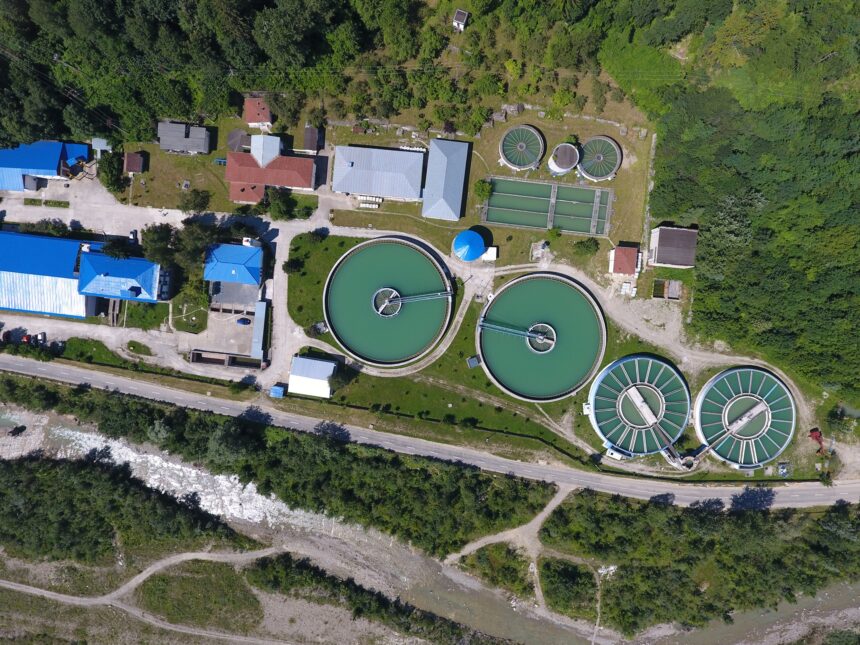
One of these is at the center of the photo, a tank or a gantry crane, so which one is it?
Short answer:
tank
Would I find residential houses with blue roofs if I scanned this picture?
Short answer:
Yes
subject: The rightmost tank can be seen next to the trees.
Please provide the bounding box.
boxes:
[691,367,795,466]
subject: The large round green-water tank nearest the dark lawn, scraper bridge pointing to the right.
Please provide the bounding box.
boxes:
[322,237,454,368]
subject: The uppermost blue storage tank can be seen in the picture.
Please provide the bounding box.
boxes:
[453,230,496,262]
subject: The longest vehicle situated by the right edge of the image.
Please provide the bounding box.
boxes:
[810,427,829,454]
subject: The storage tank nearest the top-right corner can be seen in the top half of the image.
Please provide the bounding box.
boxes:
[571,135,622,186]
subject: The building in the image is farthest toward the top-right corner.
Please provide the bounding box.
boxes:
[649,225,699,270]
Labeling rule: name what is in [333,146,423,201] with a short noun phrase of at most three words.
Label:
building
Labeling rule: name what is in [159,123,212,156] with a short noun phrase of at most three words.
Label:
house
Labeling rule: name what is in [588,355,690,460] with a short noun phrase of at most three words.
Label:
storage tank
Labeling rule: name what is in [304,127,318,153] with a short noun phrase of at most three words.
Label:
shed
